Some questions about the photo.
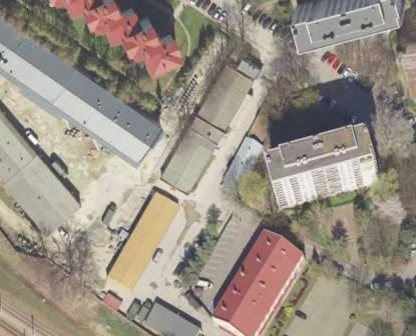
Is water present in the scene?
No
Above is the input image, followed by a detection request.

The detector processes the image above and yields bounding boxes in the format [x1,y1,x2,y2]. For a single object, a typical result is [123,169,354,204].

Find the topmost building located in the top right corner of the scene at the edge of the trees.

[292,0,402,62]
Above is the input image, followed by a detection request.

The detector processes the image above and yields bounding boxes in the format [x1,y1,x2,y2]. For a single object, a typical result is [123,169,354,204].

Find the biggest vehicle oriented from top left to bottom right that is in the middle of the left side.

[48,157,67,177]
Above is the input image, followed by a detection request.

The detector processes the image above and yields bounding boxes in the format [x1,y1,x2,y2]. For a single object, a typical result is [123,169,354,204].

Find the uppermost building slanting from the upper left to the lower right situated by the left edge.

[0,21,165,169]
